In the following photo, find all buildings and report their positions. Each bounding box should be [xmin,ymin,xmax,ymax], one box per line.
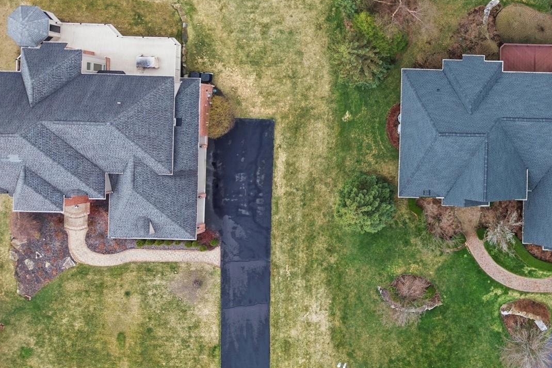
[397,55,552,256]
[0,41,219,240]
